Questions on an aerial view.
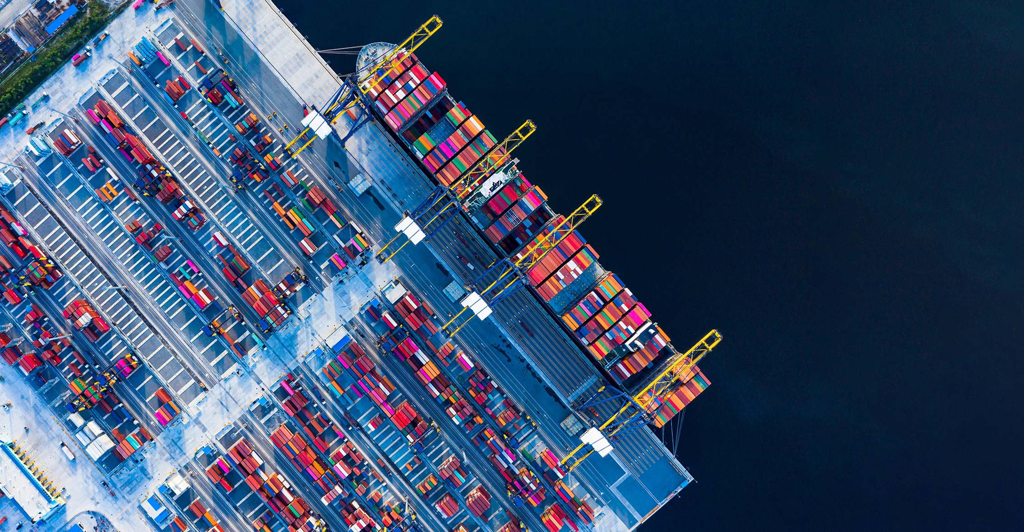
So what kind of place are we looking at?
port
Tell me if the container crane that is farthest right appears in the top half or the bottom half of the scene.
bottom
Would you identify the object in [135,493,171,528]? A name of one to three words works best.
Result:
building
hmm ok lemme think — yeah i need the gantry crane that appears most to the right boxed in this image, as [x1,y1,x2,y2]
[558,332,720,476]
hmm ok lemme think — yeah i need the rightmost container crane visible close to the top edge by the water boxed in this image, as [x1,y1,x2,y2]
[280,16,441,161]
